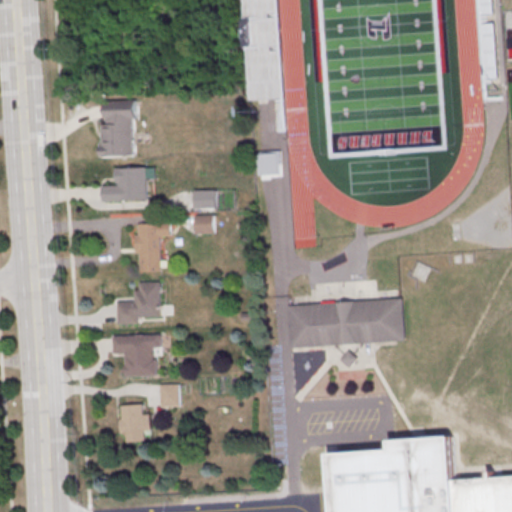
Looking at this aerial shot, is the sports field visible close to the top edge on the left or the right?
right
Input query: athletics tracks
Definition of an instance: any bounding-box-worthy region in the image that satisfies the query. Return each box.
[278,0,484,250]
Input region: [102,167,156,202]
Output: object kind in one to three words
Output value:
house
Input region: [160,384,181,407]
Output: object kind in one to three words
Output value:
building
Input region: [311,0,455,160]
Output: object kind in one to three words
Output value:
sports field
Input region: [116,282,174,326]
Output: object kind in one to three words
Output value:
house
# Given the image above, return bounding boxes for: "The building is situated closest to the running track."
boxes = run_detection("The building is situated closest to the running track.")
[256,150,286,181]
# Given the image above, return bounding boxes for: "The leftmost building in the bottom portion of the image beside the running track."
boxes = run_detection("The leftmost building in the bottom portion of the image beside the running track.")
[288,298,406,346]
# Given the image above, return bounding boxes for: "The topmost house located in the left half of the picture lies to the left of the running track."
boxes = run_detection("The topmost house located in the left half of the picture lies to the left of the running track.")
[98,100,140,156]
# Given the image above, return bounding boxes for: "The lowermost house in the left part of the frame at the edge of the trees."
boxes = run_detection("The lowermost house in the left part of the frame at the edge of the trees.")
[118,404,154,443]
